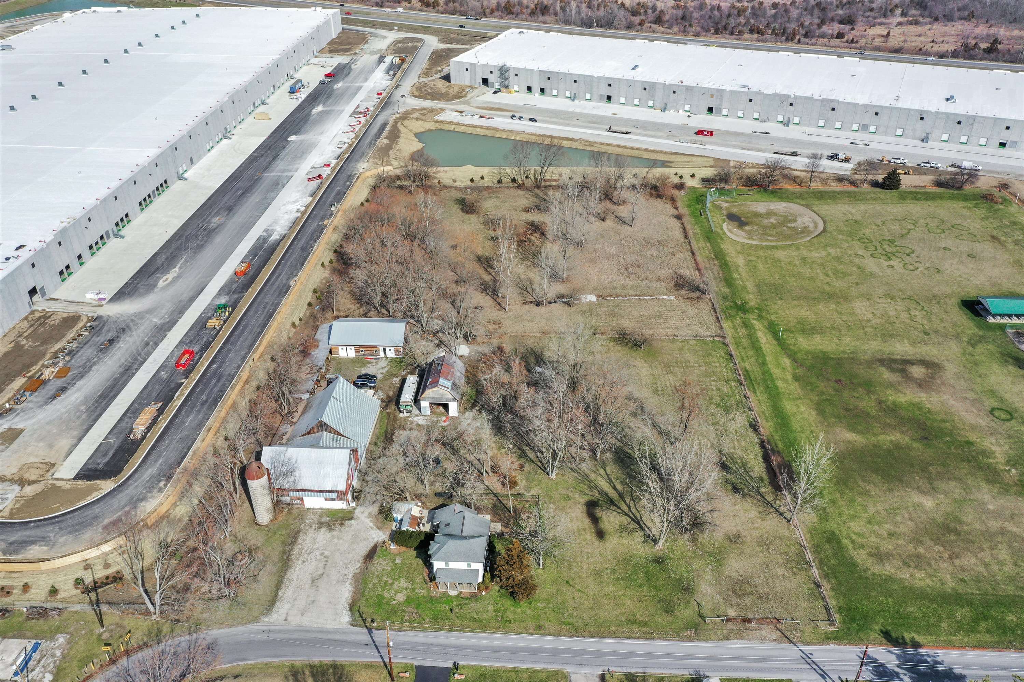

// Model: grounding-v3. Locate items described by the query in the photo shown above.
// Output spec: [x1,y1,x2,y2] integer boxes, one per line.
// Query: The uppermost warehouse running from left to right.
[450,27,1024,151]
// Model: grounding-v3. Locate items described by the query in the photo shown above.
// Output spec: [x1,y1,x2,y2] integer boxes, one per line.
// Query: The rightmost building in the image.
[972,295,1024,323]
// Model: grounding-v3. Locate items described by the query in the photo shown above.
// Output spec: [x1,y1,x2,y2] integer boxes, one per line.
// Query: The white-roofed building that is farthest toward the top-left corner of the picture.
[0,5,343,338]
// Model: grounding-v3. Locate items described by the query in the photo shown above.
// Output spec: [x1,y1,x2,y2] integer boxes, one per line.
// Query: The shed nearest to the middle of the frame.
[417,353,462,414]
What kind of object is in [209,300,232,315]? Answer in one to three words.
work vehicle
